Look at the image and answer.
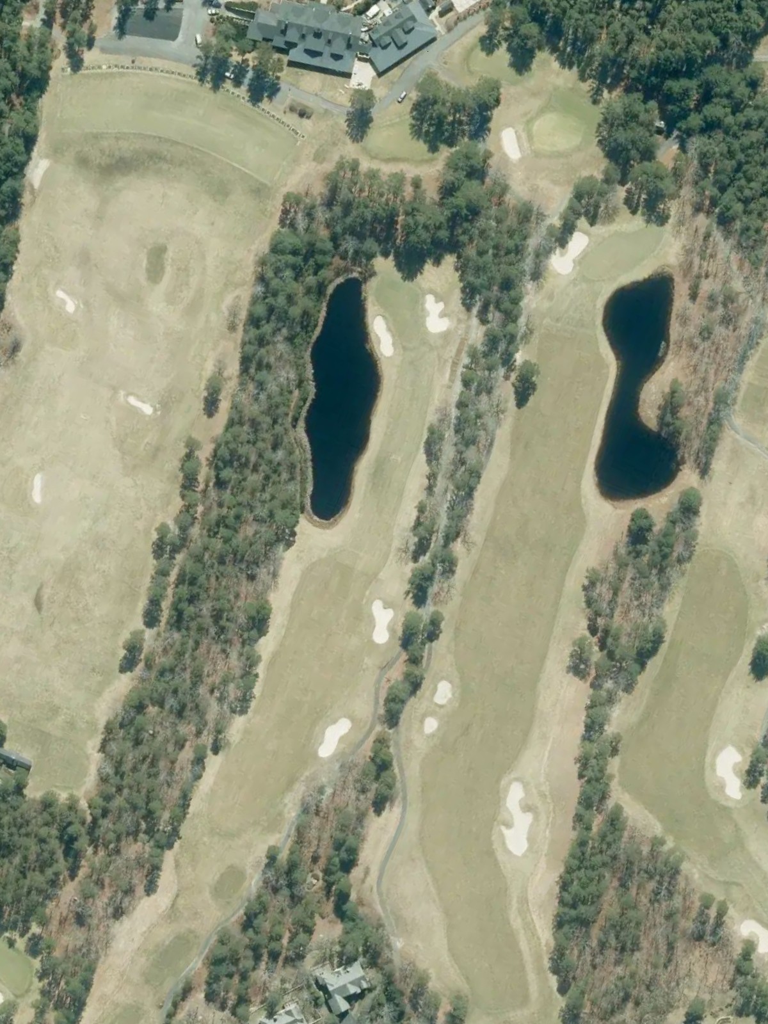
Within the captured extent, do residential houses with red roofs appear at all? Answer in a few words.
No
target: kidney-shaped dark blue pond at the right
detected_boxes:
[594,273,678,500]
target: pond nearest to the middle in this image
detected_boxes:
[304,277,380,520]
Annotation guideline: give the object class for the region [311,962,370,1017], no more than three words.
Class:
house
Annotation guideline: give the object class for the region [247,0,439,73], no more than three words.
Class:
building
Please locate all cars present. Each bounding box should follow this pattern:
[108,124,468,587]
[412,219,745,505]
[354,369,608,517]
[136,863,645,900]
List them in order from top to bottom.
[210,0,220,7]
[208,9,218,14]
[195,33,201,44]
[225,72,235,79]
[398,91,406,102]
